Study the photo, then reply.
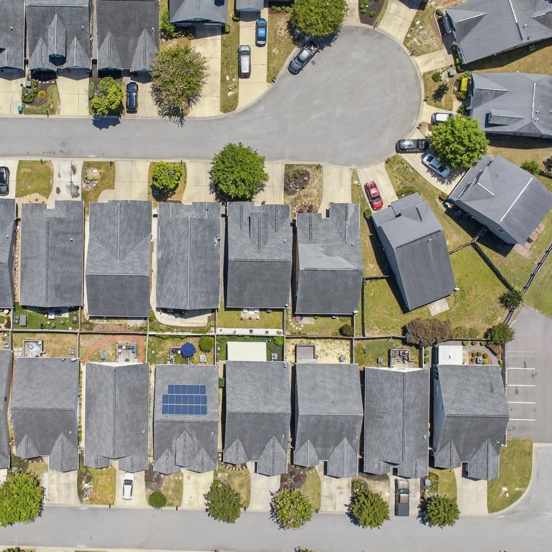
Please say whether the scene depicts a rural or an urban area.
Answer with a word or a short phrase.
urban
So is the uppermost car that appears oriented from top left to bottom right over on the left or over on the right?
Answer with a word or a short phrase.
right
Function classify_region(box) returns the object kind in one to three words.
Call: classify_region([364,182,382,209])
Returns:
car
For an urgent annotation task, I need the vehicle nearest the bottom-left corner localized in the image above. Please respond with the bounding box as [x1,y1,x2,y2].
[122,473,134,498]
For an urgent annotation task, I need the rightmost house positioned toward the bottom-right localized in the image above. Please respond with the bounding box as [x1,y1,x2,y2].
[432,364,512,485]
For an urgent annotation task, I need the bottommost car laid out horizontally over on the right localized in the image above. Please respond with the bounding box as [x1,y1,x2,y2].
[398,139,425,152]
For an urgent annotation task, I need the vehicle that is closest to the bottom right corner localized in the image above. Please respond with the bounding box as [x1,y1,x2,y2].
[396,480,409,516]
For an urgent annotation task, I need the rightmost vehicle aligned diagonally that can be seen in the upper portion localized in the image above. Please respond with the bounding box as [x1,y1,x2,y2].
[422,153,448,177]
